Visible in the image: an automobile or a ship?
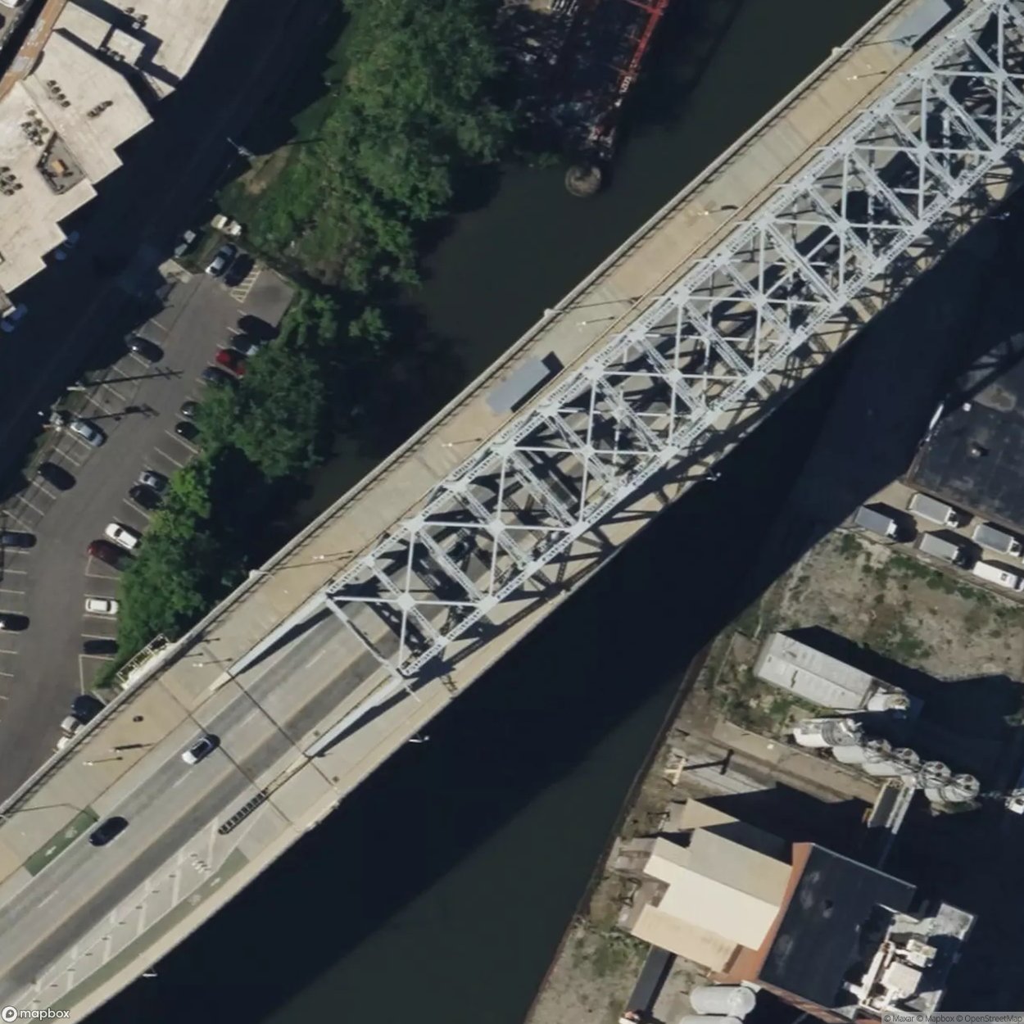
automobile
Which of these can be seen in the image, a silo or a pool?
silo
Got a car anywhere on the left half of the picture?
Yes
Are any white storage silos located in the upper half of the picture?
No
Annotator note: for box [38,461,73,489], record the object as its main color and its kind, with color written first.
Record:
black car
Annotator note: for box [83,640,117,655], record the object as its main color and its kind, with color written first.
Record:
black car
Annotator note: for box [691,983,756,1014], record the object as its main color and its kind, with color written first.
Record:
white silo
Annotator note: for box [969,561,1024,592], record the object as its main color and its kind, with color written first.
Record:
white truck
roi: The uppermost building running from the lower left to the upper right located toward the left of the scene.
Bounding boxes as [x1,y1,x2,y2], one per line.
[0,0,232,320]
